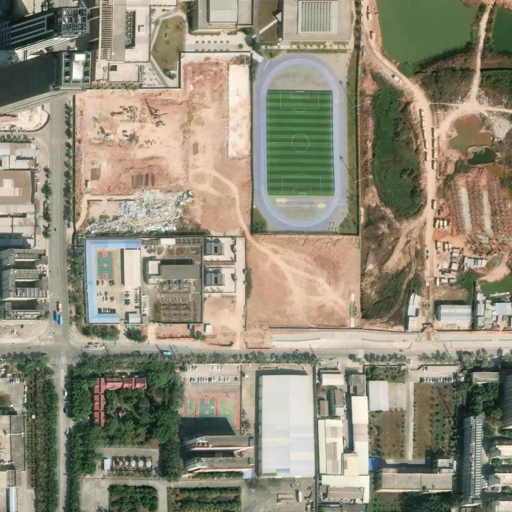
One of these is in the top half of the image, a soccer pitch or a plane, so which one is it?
soccer pitch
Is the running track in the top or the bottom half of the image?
top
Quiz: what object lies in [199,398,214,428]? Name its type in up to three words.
basketball court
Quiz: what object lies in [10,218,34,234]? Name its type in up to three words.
shed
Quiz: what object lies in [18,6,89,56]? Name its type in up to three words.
building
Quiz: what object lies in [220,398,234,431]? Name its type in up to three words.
basketball court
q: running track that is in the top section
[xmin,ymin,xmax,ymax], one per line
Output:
[257,54,348,231]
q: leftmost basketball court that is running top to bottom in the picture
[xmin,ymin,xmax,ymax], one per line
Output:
[98,251,112,280]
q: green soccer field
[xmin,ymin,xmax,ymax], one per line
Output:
[266,91,332,196]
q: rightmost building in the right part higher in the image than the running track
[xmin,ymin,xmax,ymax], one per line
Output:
[274,0,352,42]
